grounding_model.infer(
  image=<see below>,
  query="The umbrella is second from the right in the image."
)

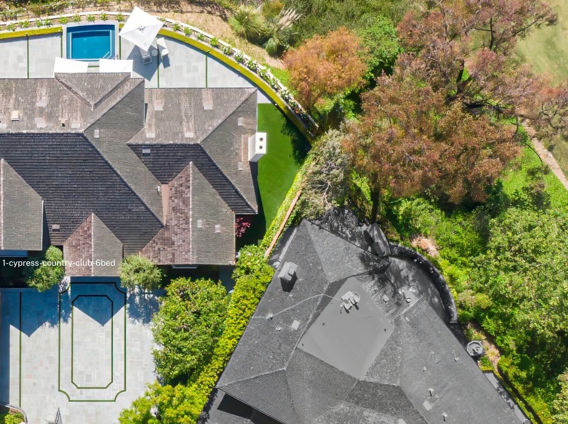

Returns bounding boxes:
[99,59,133,73]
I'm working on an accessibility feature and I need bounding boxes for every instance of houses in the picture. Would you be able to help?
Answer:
[0,72,268,406]
[217,218,528,424]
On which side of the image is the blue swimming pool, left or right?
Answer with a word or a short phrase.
left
